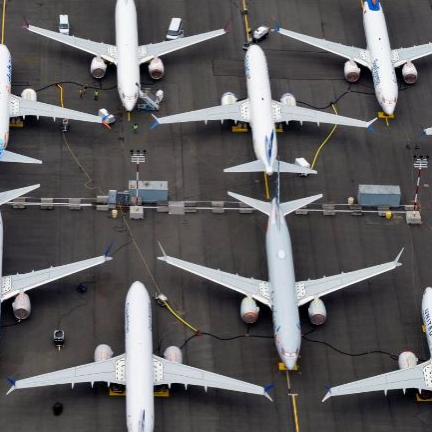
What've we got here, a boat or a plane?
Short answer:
plane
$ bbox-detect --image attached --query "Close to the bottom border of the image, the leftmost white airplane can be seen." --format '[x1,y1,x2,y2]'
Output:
[4,280,276,432]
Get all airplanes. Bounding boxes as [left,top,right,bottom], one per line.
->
[151,43,380,179]
[20,0,234,113]
[272,0,432,114]
[322,285,432,406]
[0,44,113,165]
[157,157,406,370]
[0,185,115,321]
[4,280,276,432]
